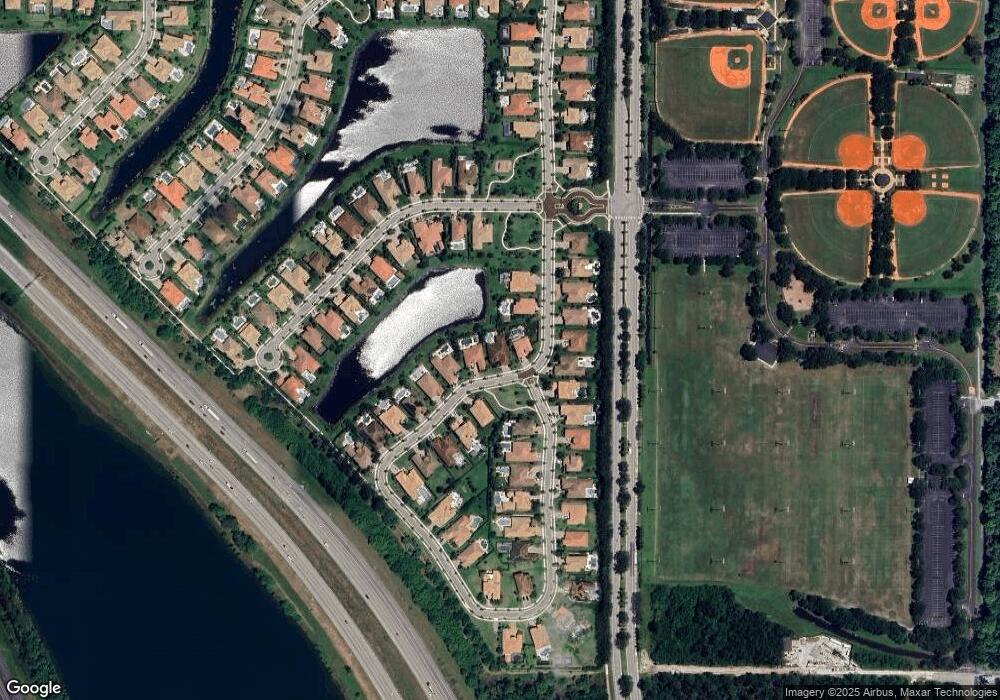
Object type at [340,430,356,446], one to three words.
swimming pool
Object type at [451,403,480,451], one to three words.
house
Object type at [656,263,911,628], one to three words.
sports field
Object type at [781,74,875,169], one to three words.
baseball field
